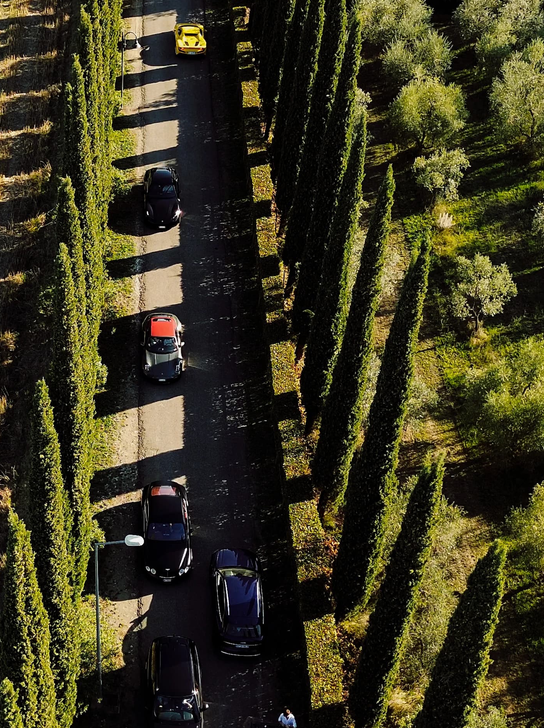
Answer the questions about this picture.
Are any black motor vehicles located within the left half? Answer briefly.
Yes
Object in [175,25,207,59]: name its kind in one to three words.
car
